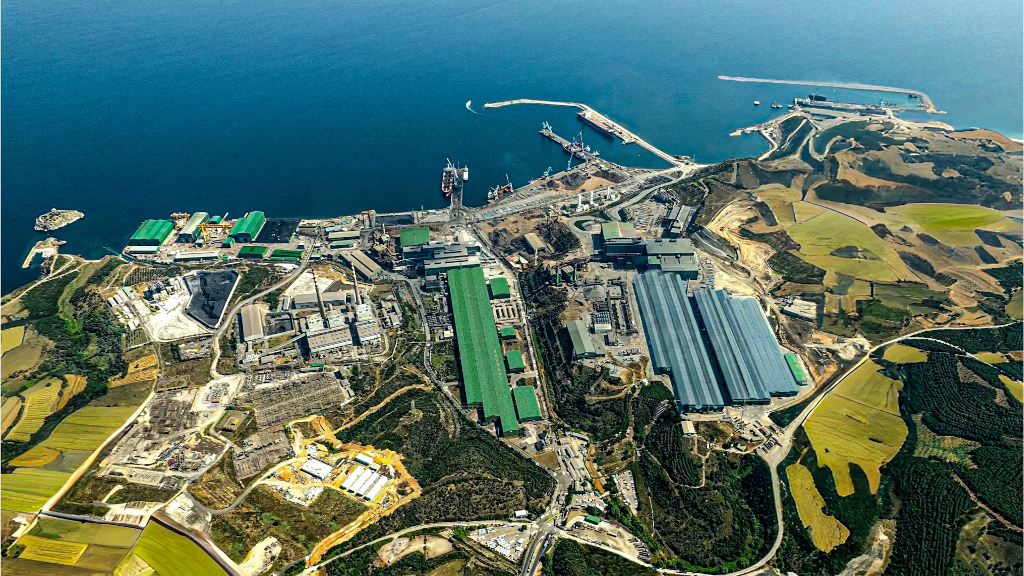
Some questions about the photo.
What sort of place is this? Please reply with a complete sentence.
The area seen from above is a port.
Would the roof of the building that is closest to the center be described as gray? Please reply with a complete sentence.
No, from above the roof of the building that is closest to the center looks green.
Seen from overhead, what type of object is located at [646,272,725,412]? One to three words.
building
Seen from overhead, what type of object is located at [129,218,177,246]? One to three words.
building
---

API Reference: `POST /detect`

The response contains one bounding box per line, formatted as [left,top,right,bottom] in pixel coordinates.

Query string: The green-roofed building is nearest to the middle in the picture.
[489,277,511,300]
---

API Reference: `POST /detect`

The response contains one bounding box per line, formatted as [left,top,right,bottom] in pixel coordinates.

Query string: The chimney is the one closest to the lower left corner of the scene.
[307,260,326,319]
